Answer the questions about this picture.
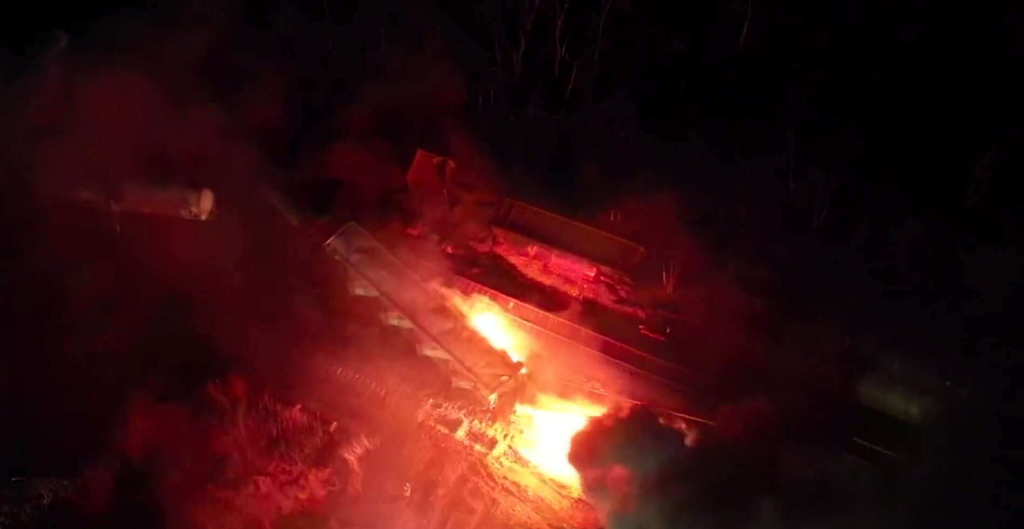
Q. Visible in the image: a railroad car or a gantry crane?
railroad car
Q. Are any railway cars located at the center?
Yes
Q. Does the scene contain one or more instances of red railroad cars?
Yes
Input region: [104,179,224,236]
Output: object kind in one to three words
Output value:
rail car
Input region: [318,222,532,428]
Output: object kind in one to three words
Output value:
rail car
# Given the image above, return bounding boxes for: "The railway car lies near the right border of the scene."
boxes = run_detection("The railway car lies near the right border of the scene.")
[828,360,991,485]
